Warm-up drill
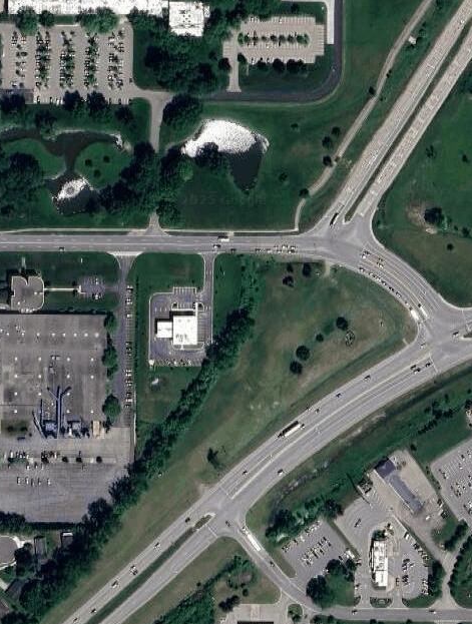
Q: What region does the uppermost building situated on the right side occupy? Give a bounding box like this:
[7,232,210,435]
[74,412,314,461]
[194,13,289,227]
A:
[375,459,423,523]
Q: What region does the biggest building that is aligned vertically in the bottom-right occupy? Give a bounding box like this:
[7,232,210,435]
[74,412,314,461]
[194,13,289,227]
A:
[372,541,388,587]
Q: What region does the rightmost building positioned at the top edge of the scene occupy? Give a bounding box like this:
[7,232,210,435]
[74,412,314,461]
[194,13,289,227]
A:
[169,2,210,37]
